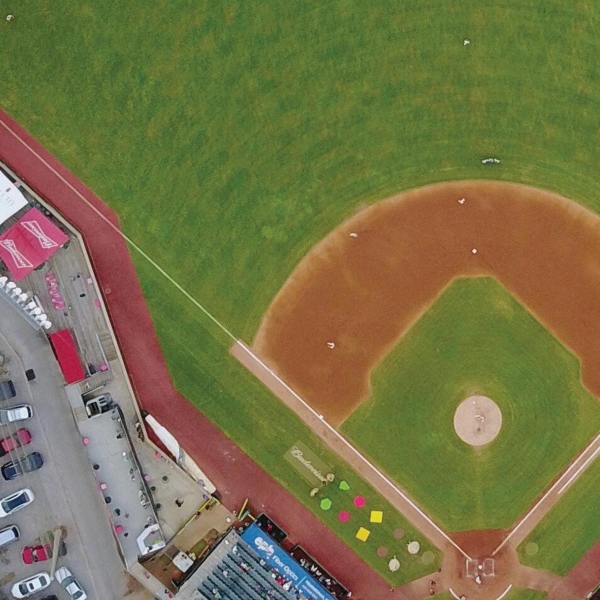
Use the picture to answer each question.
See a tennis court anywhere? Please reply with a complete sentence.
No, the frame has no tennis court in it.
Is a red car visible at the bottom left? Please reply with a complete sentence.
Yes, you'll find a red car at the bottom left.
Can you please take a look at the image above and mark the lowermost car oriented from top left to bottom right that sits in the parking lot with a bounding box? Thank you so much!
[54,563,87,600]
